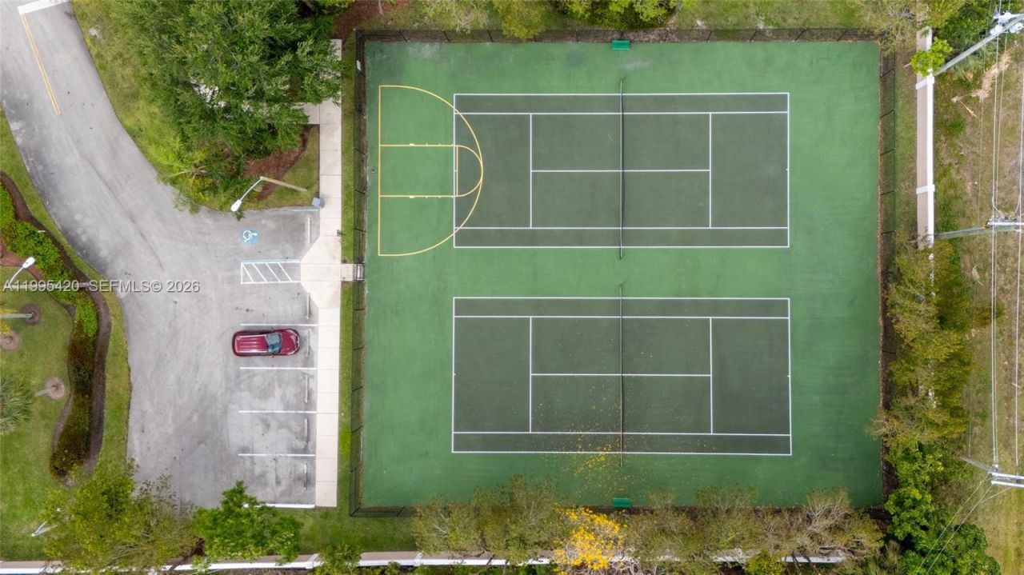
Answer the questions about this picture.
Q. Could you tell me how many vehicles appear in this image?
1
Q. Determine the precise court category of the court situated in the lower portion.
tennis court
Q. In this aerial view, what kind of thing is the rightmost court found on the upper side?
tennis court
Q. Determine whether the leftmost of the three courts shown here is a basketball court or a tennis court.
basketball court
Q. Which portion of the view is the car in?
left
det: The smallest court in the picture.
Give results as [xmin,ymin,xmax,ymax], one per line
[378,86,483,255]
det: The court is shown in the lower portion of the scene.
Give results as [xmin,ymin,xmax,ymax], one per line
[452,297,791,455]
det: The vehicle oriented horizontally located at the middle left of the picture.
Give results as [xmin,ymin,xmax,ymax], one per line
[231,327,301,359]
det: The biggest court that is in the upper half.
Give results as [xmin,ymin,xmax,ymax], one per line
[453,93,790,247]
